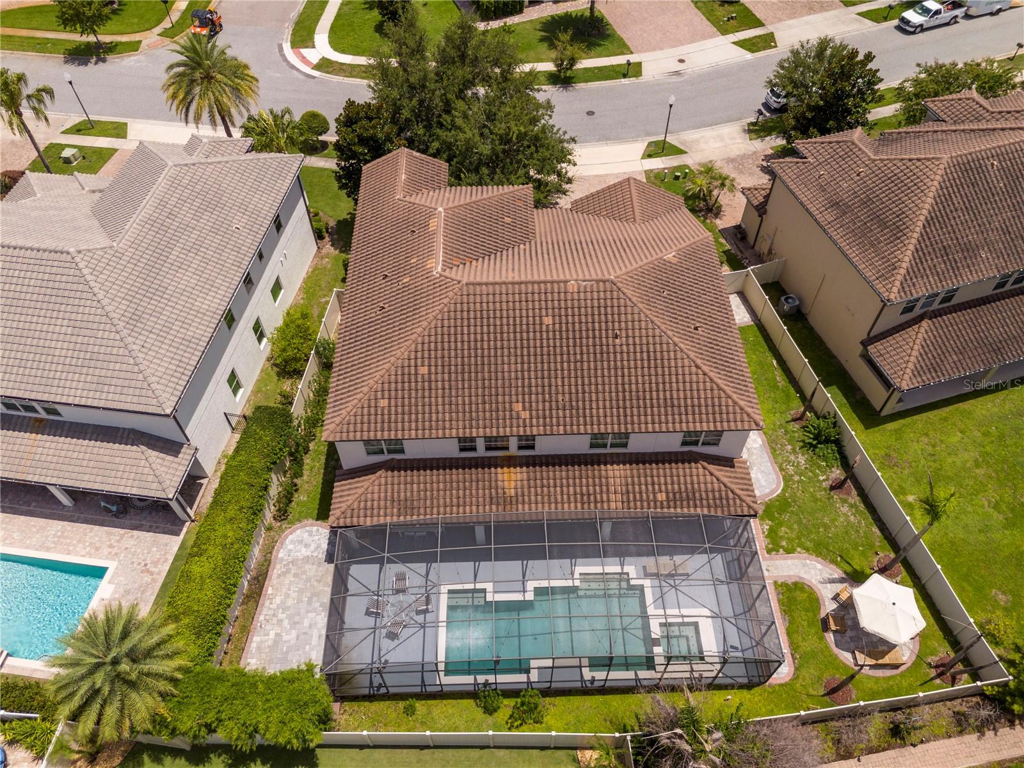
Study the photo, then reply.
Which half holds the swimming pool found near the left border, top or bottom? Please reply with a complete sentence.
The swimming pool found near the left border sits in the bottom half of the picture.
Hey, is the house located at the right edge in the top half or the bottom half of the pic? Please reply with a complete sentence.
The house located at the right edge sits in the top half of the picture.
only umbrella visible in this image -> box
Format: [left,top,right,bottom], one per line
[851,574,928,646]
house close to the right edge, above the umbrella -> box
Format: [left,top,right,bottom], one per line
[732,85,1024,419]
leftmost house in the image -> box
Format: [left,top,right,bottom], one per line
[0,131,310,524]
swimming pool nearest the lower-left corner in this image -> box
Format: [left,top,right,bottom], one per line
[0,544,119,673]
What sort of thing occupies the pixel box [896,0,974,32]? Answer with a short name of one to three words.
truck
